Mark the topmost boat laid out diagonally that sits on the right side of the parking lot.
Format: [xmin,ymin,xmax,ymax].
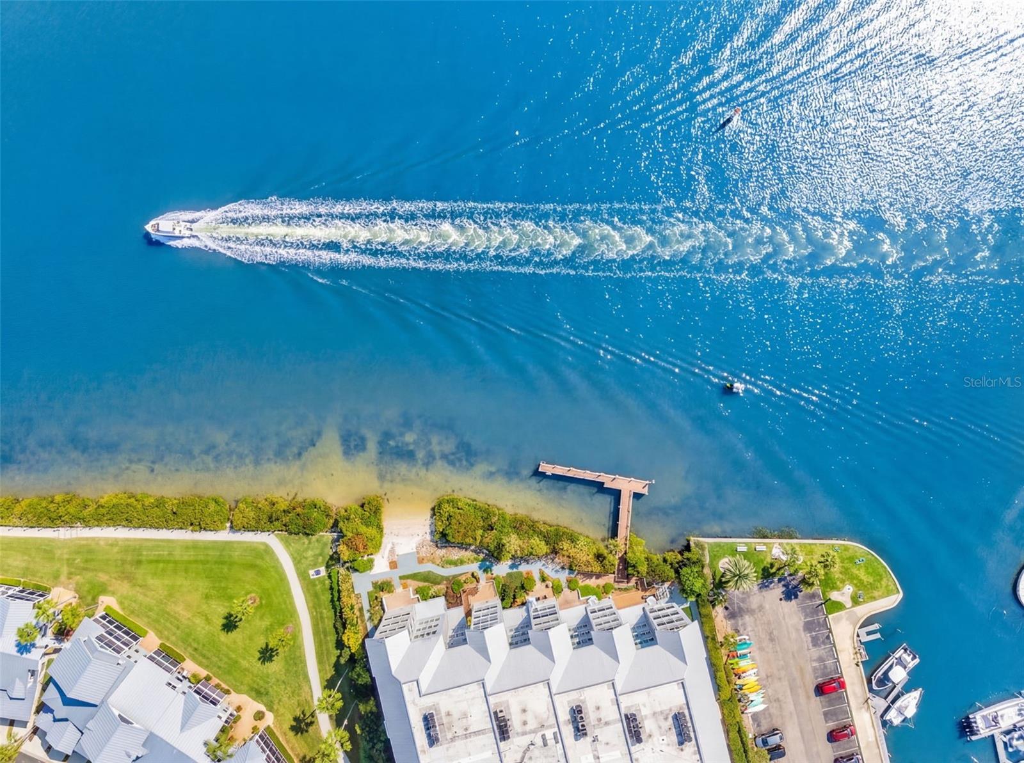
[873,643,920,690]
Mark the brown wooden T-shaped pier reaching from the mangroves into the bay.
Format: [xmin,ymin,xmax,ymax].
[539,461,655,583]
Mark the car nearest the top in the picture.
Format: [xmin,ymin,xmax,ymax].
[815,677,845,695]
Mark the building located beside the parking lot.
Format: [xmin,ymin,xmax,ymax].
[365,589,731,763]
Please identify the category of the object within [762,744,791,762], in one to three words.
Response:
car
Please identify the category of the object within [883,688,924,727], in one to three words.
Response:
boat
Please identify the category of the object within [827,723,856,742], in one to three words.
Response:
car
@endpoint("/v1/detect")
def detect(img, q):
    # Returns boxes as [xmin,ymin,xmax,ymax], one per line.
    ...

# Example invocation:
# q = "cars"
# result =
[834,750,864,763]
[815,677,845,695]
[827,723,856,742]
[762,744,791,762]
[754,729,784,748]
